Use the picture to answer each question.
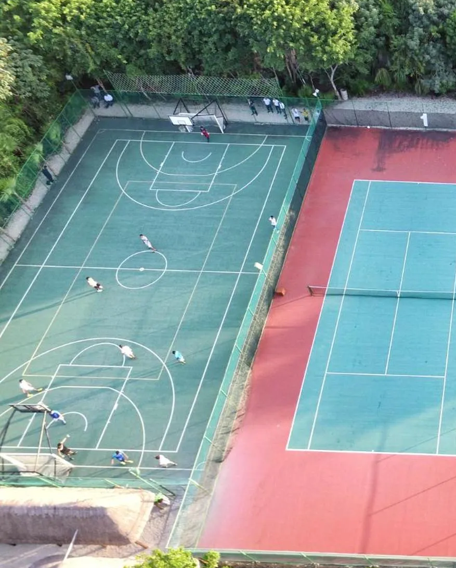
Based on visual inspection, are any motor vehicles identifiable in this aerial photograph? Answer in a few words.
No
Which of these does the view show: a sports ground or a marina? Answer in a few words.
sports ground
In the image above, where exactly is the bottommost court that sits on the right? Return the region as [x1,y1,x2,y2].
[197,127,456,568]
